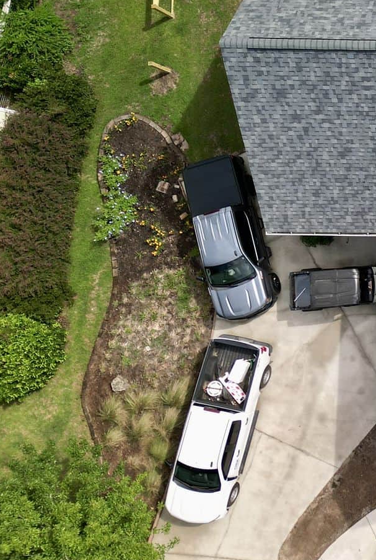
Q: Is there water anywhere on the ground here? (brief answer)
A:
No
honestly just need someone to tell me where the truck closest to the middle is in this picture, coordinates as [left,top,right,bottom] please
[178,153,276,321]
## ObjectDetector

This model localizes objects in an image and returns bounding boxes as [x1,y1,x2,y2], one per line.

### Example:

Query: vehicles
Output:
[178,153,276,321]
[158,328,273,528]
[286,261,376,309]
